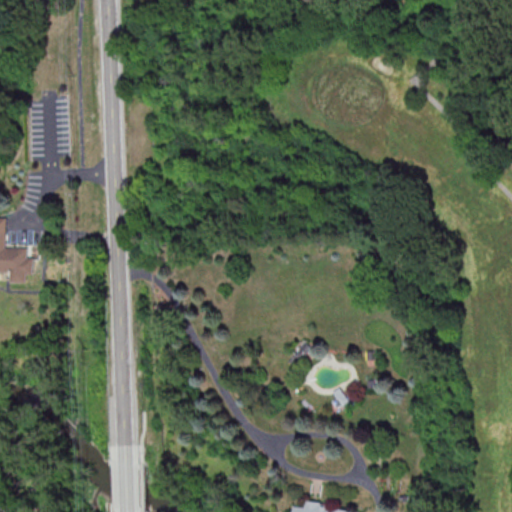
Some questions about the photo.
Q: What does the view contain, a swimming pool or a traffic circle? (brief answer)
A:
swimming pool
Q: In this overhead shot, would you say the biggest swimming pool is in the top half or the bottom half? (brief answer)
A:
bottom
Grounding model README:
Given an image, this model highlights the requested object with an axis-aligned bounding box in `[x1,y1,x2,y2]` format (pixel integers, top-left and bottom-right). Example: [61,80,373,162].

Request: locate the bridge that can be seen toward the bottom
[106,445,154,512]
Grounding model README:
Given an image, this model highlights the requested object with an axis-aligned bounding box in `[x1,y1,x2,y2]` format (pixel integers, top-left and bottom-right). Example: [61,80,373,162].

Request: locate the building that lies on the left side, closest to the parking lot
[0,218,40,283]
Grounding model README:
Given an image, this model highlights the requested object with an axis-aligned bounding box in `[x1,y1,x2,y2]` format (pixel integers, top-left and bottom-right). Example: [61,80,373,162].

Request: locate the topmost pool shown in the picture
[306,354,358,394]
